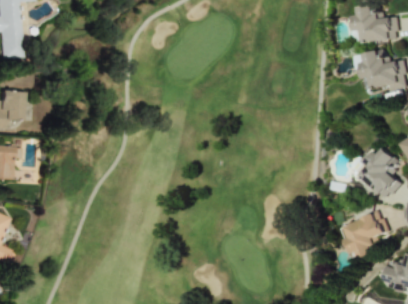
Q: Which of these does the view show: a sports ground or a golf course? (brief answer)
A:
golf course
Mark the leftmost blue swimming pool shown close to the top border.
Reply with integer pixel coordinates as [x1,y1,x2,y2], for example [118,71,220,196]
[29,2,53,20]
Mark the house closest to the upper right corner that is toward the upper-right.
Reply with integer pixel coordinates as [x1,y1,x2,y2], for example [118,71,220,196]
[348,4,400,43]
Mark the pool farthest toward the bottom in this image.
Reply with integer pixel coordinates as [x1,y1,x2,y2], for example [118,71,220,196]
[338,250,352,270]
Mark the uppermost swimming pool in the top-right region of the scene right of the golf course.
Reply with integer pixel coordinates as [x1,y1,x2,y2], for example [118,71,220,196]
[337,22,350,42]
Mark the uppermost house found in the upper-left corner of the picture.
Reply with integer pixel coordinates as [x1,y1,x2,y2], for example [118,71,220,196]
[0,0,36,58]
